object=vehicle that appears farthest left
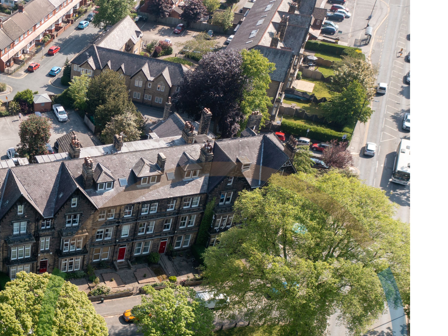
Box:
[5,148,20,166]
